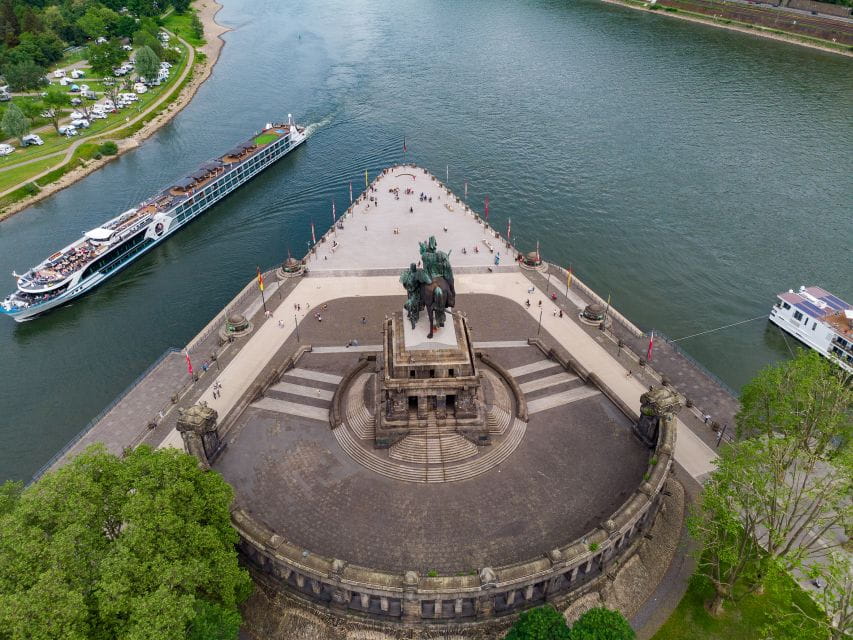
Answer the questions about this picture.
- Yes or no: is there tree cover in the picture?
Yes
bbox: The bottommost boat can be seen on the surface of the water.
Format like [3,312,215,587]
[771,286,853,369]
